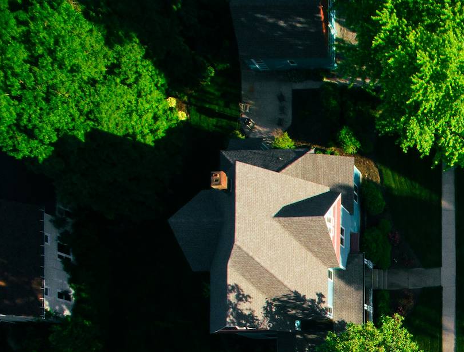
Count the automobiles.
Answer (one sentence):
The count of automobiles is 0.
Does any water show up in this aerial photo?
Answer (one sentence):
No, the scene doesn't show any water.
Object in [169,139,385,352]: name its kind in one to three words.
house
